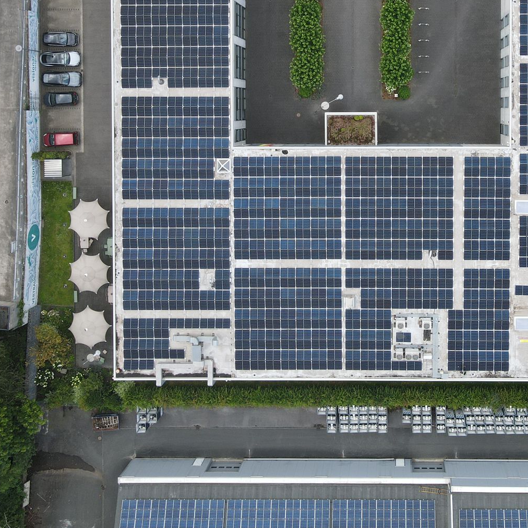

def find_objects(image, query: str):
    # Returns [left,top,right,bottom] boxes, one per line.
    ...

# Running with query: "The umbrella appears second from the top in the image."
[72,251,112,292]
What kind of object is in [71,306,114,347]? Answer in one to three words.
umbrella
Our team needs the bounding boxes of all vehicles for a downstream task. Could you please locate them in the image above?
[44,130,80,147]
[42,30,80,48]
[45,91,79,107]
[42,50,82,68]
[43,70,83,89]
